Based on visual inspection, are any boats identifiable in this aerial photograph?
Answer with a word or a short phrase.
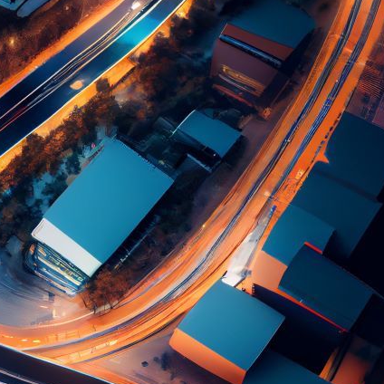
No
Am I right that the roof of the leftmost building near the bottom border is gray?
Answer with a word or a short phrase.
No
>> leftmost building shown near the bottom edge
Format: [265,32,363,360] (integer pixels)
[160,279,284,384]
